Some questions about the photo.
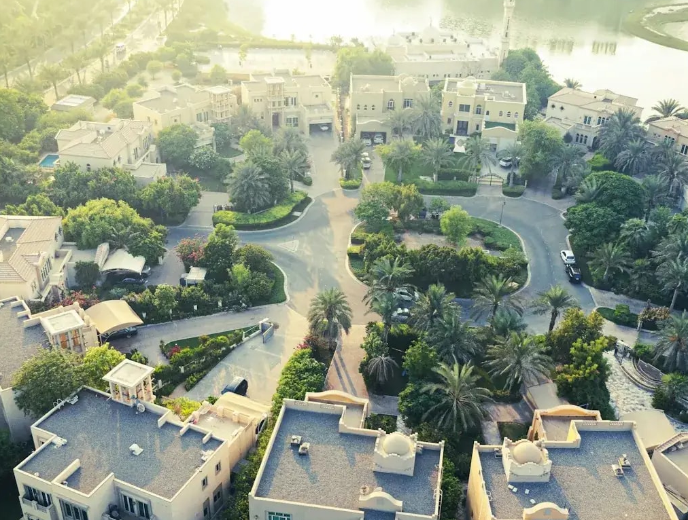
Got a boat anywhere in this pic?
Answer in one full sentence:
No, the frame has no boat in it.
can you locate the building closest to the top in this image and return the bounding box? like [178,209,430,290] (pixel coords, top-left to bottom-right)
[379,16,496,86]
